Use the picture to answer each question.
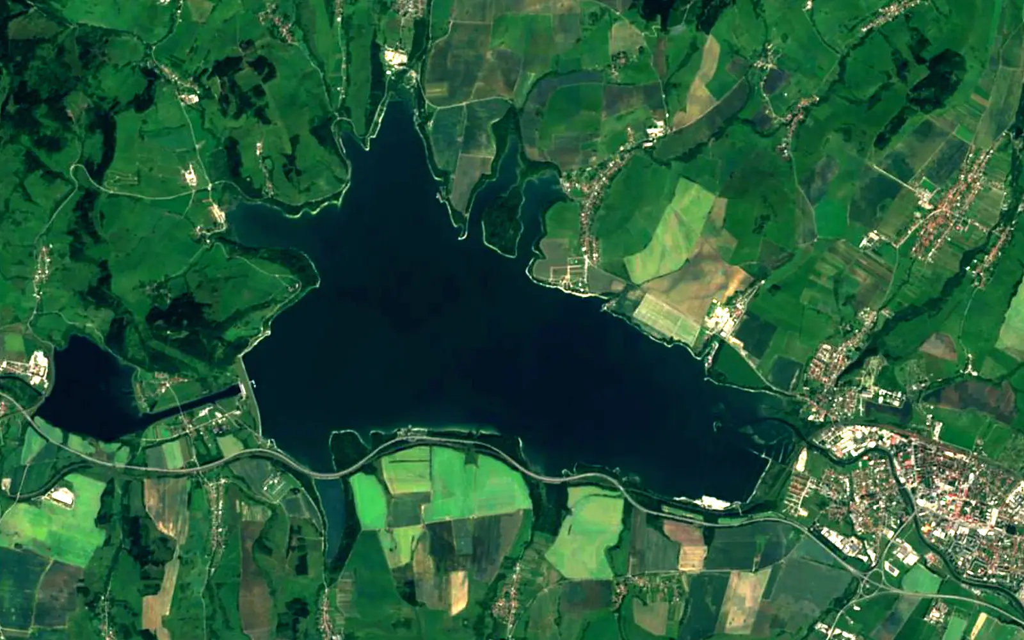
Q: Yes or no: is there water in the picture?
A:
Yes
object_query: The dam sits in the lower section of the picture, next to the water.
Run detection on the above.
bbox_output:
[235,355,263,436]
